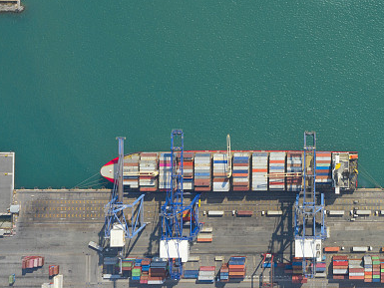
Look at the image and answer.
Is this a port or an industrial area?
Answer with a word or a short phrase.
port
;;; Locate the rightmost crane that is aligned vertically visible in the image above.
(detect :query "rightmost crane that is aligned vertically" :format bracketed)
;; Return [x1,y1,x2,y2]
[292,128,326,282]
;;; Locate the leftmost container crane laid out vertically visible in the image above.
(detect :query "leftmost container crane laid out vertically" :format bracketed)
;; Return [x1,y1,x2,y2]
[104,134,152,273]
